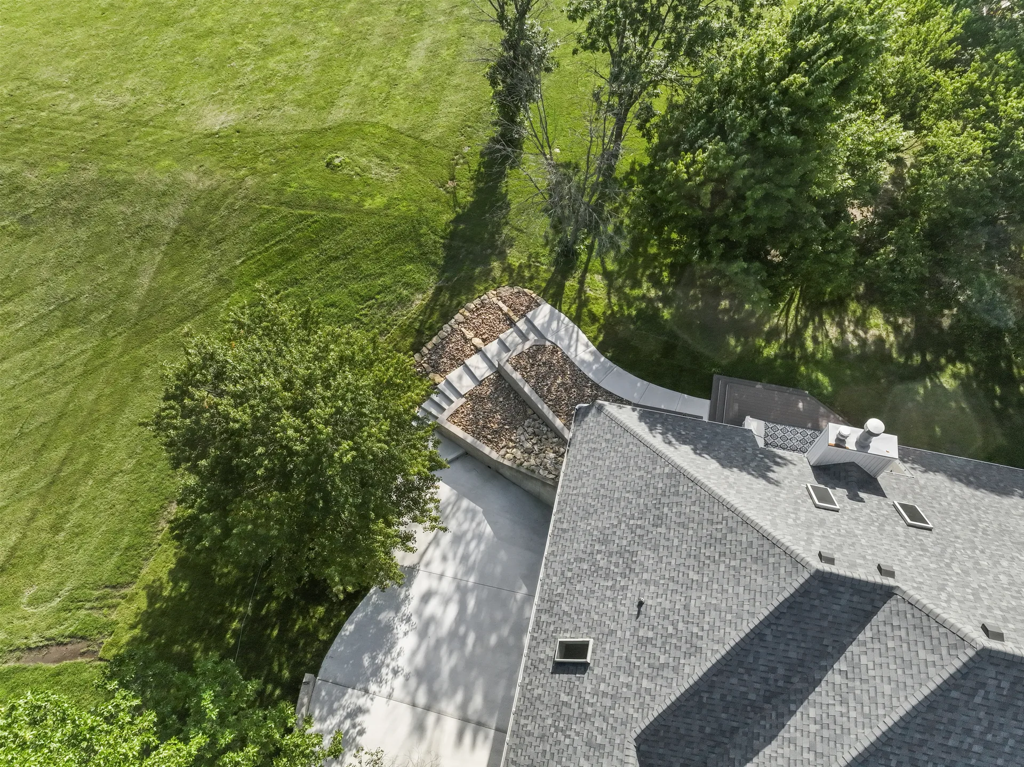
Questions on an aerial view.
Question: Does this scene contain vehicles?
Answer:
No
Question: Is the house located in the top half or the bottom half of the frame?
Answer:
bottom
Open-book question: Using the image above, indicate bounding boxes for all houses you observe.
[500,398,1024,767]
